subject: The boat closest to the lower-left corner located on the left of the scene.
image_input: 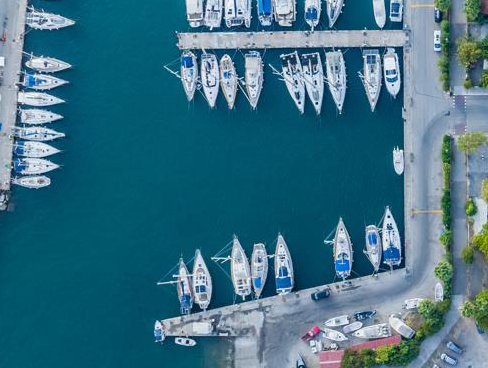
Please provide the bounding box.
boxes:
[152,321,165,344]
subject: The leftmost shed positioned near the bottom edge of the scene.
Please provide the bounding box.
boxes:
[320,349,346,368]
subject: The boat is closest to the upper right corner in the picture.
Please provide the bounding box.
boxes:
[390,0,403,22]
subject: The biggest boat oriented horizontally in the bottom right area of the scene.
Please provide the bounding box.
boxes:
[354,323,392,337]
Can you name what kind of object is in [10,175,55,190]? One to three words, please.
boat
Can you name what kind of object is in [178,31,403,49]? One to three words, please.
pier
